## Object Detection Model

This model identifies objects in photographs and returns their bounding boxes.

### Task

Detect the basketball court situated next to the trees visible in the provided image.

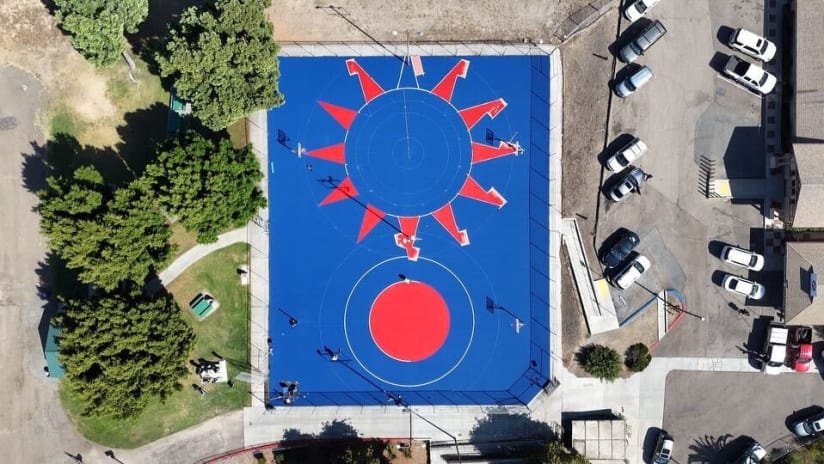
[268,56,550,405]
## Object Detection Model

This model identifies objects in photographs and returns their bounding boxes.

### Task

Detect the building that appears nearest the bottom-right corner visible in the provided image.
[778,242,824,324]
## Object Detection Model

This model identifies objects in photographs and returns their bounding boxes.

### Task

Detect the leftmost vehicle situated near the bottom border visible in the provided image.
[649,432,680,464]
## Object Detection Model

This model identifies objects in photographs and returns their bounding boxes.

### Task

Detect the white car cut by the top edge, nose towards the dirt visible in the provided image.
[623,0,666,23]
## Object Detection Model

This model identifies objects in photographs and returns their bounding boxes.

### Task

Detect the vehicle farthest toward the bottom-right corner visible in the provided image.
[790,408,824,438]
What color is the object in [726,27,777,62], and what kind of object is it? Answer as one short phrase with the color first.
white car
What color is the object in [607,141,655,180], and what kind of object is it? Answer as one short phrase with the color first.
white car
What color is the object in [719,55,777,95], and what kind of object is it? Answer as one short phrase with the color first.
white vehicle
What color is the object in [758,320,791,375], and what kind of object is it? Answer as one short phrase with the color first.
white vehicle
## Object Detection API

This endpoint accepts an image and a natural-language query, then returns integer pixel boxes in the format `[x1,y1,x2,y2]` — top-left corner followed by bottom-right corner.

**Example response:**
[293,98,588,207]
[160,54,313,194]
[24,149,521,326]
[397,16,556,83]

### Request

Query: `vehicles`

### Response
[618,21,669,65]
[723,436,768,464]
[790,408,824,438]
[614,258,658,297]
[607,141,655,180]
[623,0,666,23]
[612,64,654,100]
[758,320,791,375]
[649,432,680,464]
[608,175,653,212]
[721,248,771,276]
[786,323,818,372]
[726,27,777,62]
[719,55,777,95]
[605,234,648,273]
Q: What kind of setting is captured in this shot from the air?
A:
sports ground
